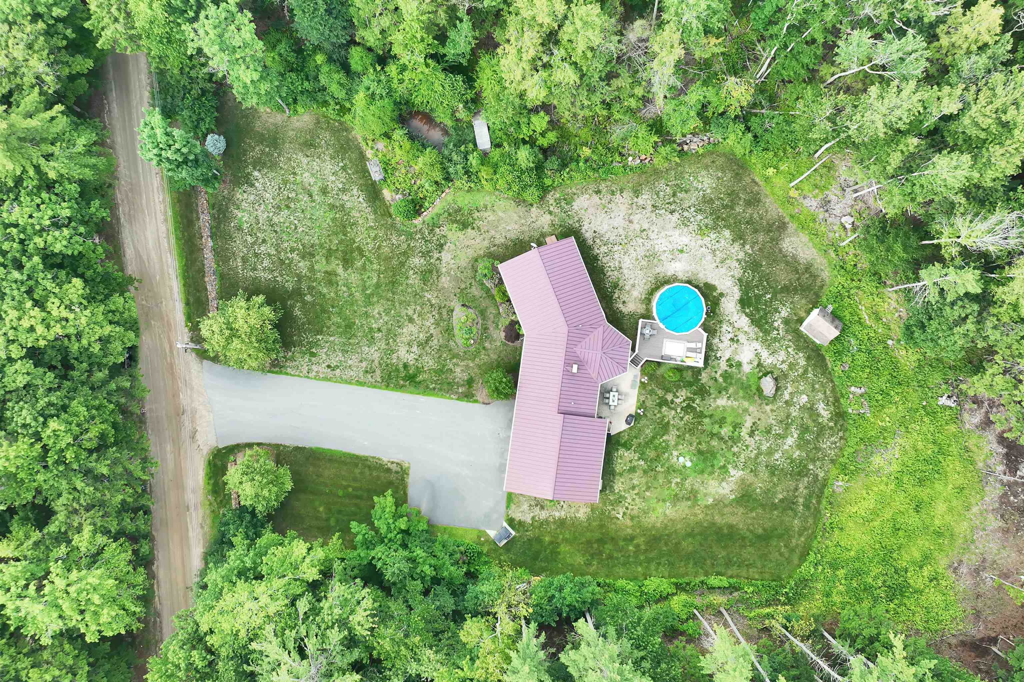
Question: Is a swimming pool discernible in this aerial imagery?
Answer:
Yes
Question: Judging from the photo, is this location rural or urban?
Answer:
rural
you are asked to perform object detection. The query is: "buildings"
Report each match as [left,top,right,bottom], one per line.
[497,236,633,503]
[797,305,843,346]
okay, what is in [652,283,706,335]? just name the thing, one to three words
swimming pool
